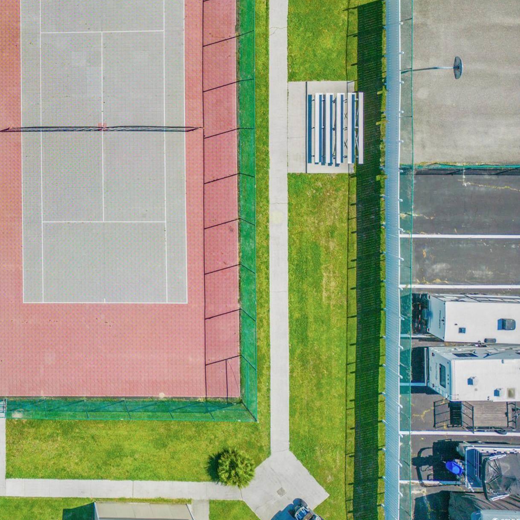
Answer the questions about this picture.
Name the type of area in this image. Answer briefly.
sports ground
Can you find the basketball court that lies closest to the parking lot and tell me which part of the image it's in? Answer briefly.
top right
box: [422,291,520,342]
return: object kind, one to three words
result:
trailer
